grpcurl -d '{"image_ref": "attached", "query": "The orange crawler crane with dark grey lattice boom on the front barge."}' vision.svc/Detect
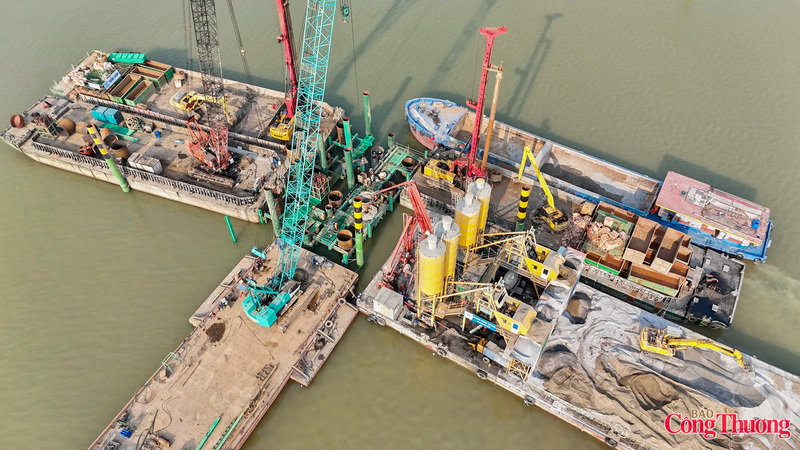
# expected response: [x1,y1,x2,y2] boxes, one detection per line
[181,0,250,190]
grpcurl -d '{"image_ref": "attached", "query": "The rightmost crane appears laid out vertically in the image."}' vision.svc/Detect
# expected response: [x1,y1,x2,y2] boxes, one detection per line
[245,0,338,338]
